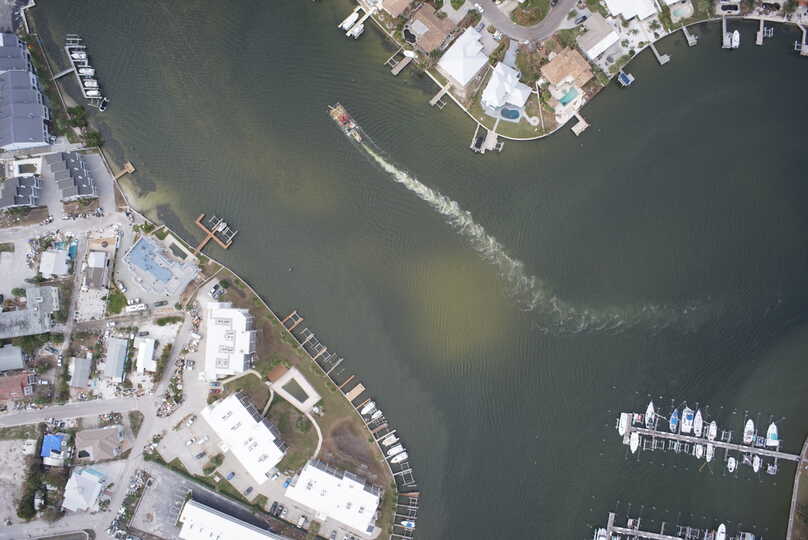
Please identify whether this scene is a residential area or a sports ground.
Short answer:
residential area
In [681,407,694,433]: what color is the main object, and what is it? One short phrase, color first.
white boat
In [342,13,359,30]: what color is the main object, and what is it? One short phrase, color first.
white boat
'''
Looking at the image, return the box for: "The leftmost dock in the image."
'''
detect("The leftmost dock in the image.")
[54,44,103,99]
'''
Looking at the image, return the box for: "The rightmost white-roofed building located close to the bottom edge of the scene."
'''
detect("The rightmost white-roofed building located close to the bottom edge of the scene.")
[284,456,381,534]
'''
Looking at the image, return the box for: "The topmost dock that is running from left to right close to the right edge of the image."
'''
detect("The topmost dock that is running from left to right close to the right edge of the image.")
[624,413,801,464]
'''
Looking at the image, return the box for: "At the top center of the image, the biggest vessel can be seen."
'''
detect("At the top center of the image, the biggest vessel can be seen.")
[325,101,357,135]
